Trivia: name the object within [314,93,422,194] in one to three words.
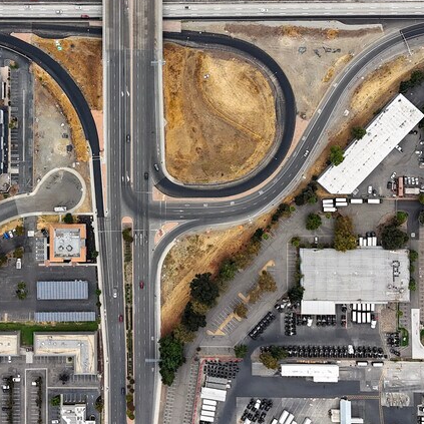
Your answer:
building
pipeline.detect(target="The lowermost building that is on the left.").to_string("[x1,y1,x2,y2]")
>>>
[61,401,95,424]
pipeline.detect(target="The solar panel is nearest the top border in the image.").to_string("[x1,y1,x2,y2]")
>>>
[37,281,88,300]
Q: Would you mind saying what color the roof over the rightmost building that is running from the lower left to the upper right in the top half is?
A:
white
